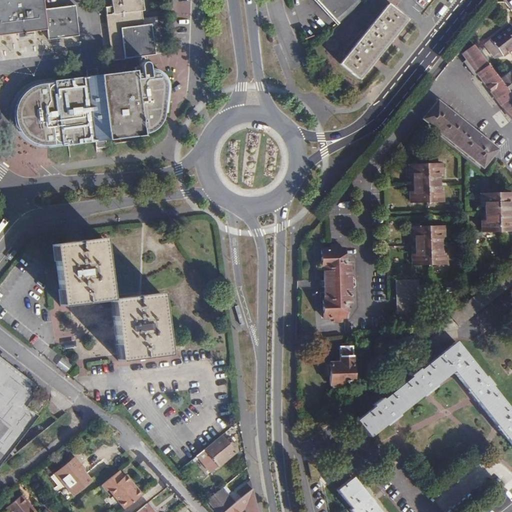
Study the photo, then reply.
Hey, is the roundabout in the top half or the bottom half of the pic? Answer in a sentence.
The top half of the photo is where the roundabout is.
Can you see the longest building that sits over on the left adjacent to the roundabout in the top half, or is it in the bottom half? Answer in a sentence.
The longest building that sits over on the left adjacent to the roundabout sits in the top half of the picture.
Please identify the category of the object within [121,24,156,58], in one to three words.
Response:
building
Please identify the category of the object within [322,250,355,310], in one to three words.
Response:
house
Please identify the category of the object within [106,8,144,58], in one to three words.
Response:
building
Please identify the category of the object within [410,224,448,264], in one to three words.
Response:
house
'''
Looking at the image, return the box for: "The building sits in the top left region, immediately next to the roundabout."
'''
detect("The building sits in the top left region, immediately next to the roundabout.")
[15,62,170,150]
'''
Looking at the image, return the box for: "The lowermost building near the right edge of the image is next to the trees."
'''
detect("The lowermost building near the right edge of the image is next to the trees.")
[360,342,512,451]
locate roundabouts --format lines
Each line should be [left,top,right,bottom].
[197,102,307,214]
